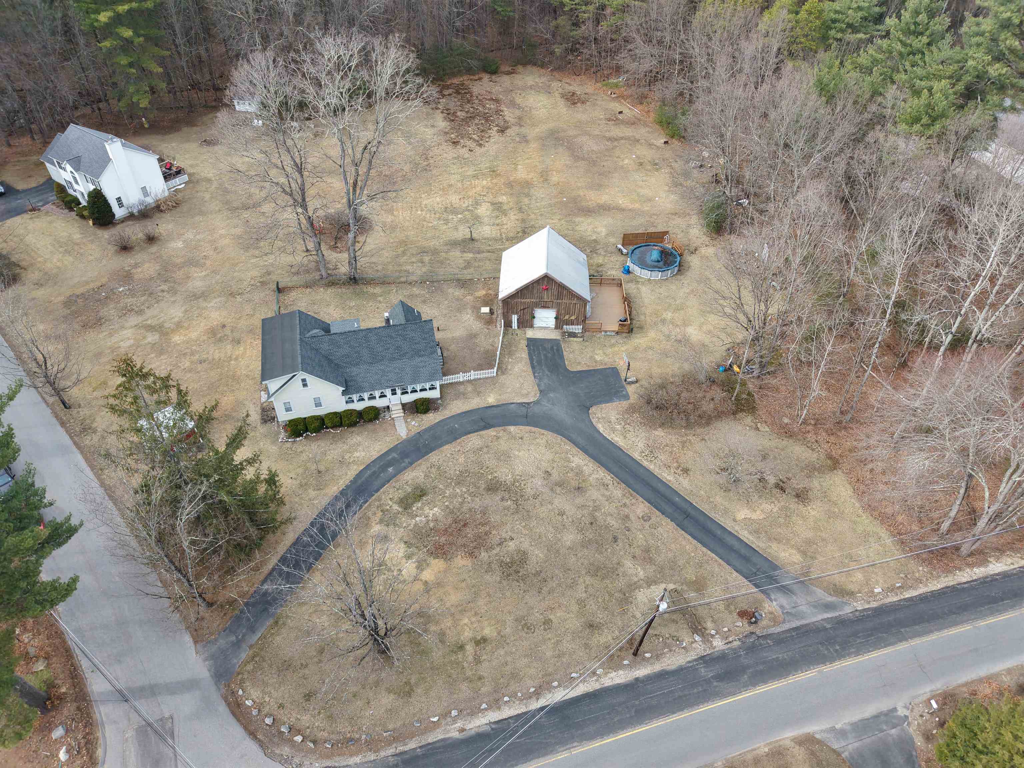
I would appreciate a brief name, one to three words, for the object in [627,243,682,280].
swimming pool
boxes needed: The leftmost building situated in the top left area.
[40,123,170,219]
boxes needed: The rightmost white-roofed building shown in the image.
[499,227,590,331]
